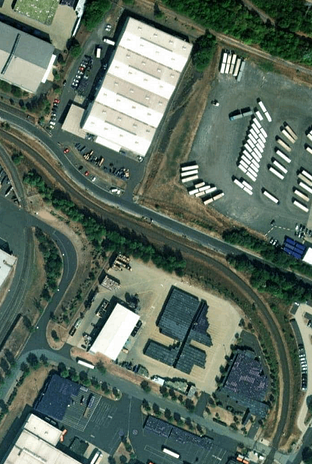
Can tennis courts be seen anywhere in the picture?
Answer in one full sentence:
No, there isn't any tennis court down there.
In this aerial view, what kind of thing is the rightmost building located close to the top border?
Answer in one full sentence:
From above, the rightmost building located close to the top border can be identified as a warehouse.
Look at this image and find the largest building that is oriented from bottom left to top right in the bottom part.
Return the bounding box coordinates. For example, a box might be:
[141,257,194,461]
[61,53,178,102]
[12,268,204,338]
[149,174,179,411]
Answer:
[90,303,140,363]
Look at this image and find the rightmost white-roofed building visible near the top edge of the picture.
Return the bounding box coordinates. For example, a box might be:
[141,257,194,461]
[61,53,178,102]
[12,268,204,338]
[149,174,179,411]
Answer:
[83,18,193,161]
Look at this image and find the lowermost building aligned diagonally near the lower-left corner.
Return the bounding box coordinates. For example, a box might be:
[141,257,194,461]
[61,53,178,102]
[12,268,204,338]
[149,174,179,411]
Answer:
[24,414,62,447]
